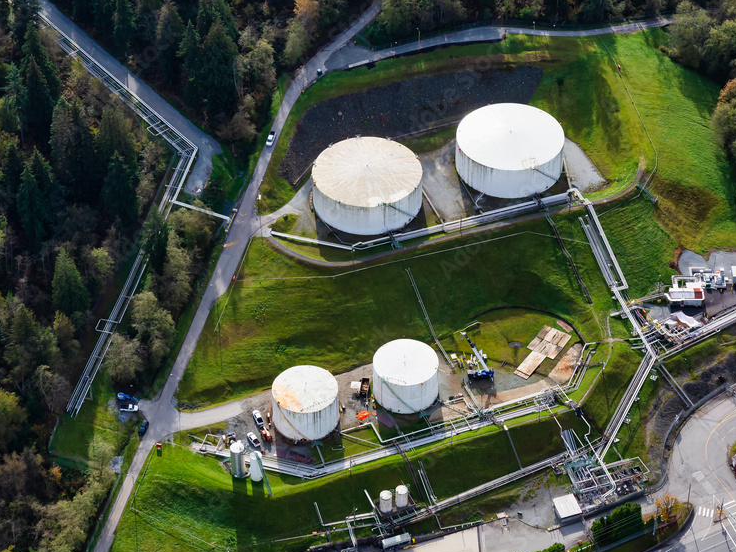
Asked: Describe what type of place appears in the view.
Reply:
industrial area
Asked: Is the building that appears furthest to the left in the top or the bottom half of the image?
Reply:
bottom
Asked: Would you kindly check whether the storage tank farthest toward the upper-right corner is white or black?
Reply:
white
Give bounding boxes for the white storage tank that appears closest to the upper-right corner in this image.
[459,105,571,204]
